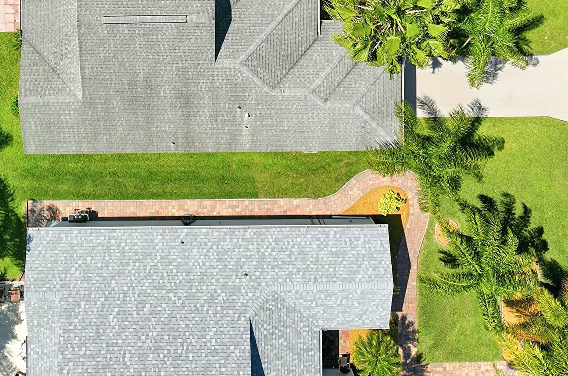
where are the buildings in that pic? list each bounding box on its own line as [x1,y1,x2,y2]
[16,0,406,153]
[23,220,393,376]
